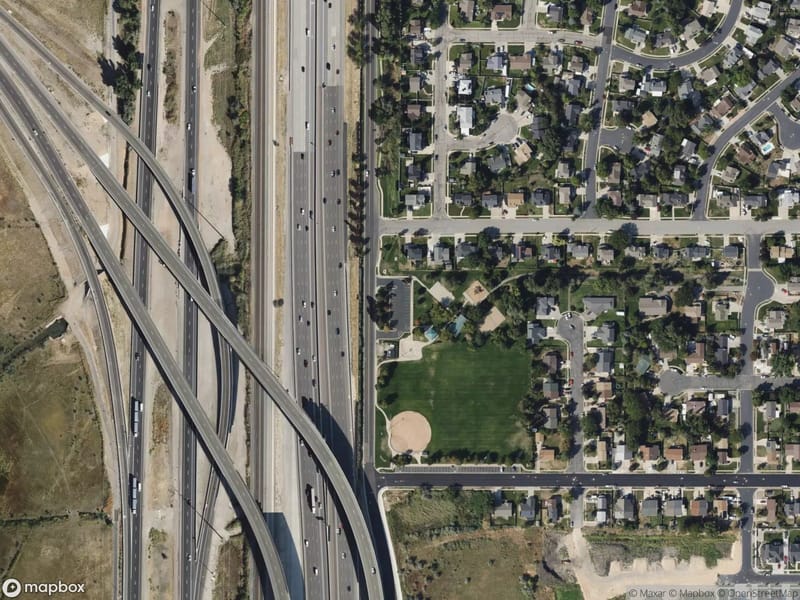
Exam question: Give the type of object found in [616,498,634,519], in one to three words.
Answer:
house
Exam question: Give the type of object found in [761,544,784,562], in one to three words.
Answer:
house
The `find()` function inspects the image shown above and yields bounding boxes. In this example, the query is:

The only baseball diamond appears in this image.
[378,345,530,455]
